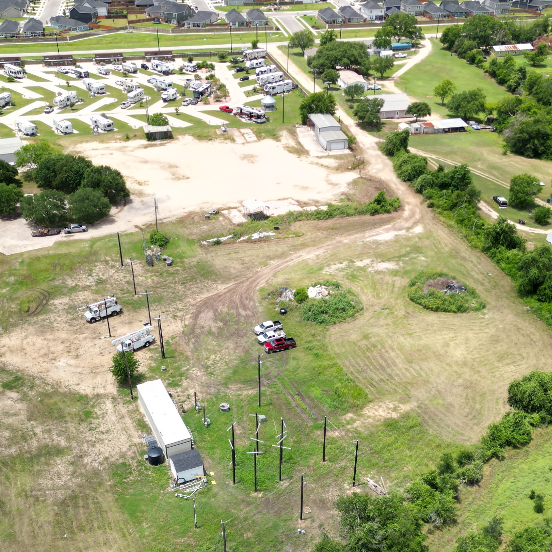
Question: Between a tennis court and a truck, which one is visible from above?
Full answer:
The one in the frame is a truck.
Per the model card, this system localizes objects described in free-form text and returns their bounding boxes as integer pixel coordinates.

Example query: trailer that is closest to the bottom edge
[135,380,193,467]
